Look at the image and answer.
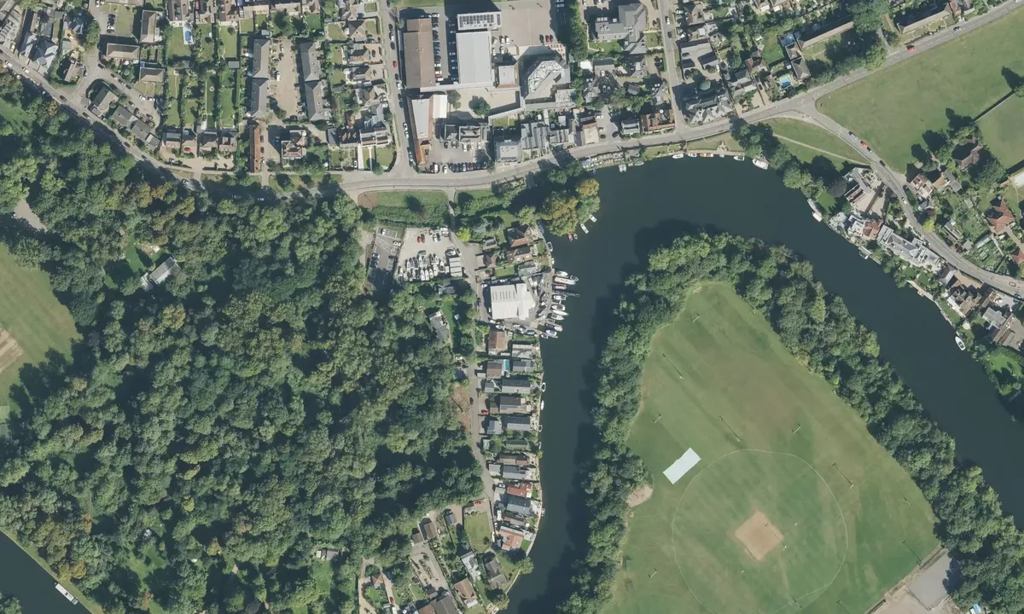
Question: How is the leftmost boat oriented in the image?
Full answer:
What the image shows is the leftmost boat lying on a diagonal.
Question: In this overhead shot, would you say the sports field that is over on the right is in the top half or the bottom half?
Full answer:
The bottom half of the photo is where the sports field that is over on the right is.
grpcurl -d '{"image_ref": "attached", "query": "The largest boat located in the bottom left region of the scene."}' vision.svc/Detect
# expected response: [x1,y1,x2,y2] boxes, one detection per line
[55,583,78,604]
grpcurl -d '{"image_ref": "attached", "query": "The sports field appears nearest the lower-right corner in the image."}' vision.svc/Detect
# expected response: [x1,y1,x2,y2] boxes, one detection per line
[603,282,941,614]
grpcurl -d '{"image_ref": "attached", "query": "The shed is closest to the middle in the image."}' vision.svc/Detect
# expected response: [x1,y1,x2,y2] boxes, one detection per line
[490,283,534,320]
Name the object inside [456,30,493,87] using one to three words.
building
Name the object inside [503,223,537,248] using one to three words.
house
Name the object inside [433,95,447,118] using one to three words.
building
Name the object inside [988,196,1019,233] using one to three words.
house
